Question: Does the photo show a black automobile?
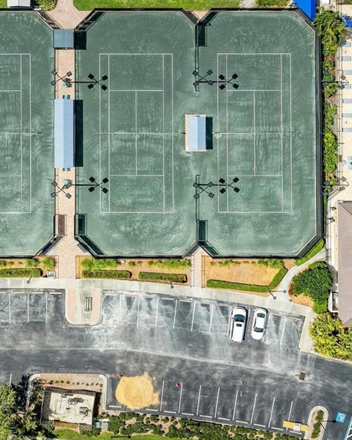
No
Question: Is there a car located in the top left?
No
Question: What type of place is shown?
sports ground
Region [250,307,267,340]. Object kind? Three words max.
car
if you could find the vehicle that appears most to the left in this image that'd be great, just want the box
[229,307,247,342]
